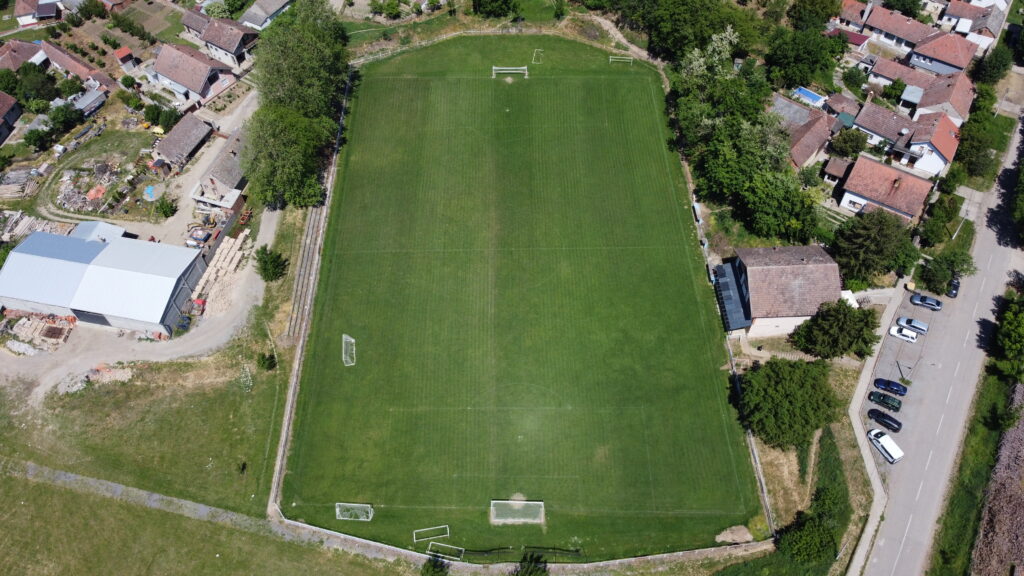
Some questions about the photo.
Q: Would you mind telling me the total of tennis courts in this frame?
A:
0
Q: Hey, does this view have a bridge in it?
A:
No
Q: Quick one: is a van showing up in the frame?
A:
Yes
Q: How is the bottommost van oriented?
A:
on a diagonal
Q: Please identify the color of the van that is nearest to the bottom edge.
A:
white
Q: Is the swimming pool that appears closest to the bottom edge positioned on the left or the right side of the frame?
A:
right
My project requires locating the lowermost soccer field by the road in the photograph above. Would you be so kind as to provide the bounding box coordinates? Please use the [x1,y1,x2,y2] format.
[273,36,772,565]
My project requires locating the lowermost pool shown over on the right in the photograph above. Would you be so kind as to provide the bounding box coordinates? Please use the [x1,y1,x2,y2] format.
[792,87,829,109]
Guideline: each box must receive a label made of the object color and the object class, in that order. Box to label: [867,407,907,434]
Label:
black car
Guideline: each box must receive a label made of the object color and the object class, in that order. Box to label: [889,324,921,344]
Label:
white car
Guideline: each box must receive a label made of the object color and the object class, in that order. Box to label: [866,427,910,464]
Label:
white van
